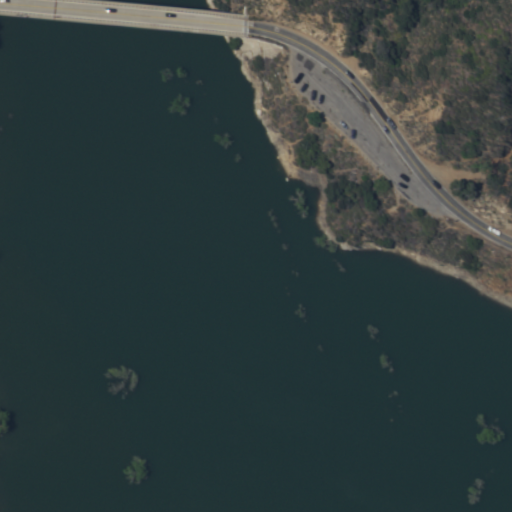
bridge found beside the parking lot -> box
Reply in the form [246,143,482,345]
[0,0,250,38]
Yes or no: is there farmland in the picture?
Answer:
No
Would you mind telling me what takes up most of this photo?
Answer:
water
